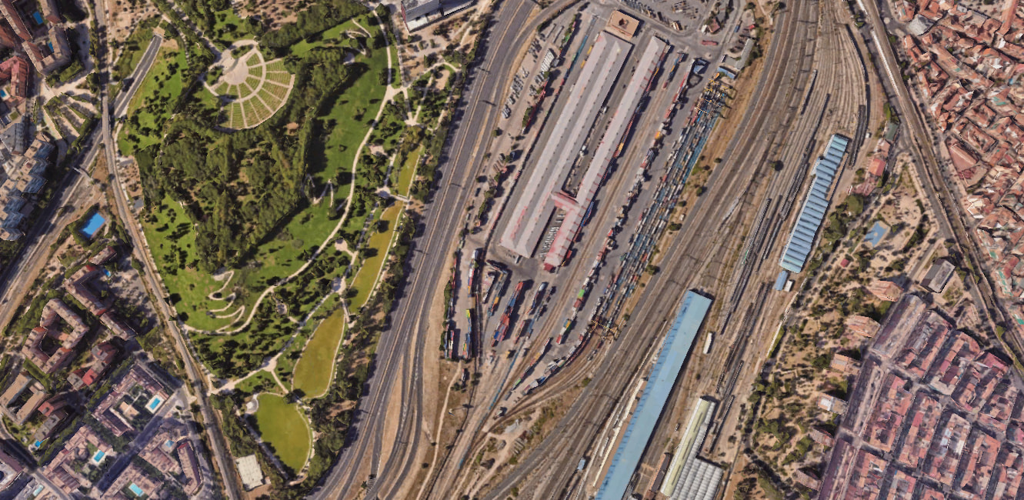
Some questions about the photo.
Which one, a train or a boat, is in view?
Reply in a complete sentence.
This aerial view contains a train.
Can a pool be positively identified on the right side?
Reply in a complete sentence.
No, no pool appears on the right side.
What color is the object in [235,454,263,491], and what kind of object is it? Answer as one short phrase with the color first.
white sports court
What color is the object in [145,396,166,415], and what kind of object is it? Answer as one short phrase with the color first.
white swimming pool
